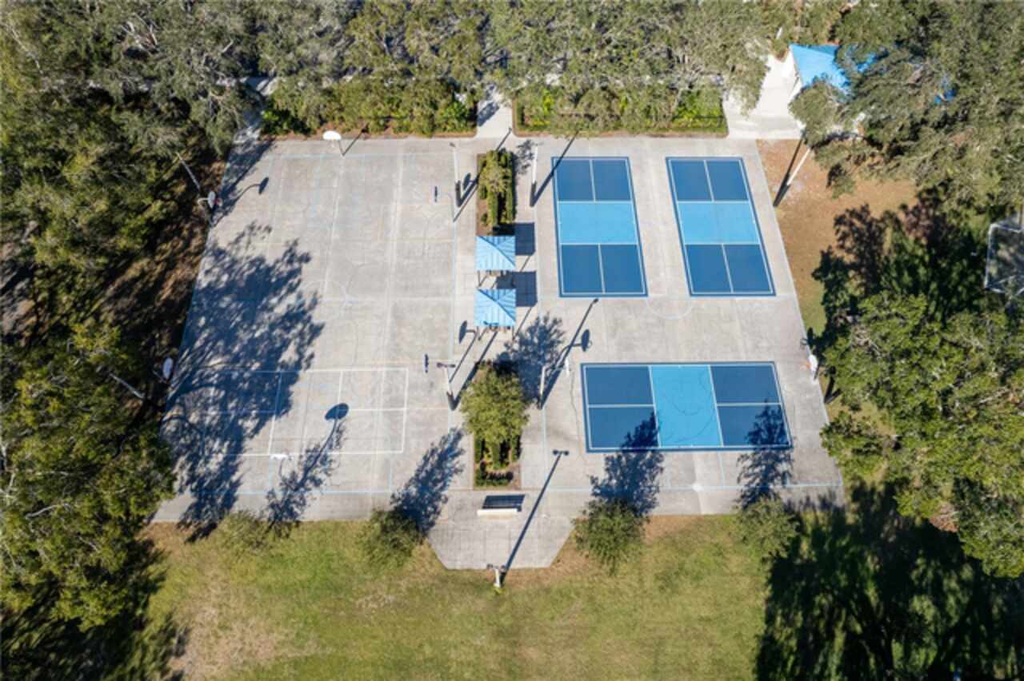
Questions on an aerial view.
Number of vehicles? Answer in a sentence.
No vehicles are visible.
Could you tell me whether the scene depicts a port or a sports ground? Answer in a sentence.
What you see here is a sports ground.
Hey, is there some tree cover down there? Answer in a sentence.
Yes, tree cover shows up in the scene.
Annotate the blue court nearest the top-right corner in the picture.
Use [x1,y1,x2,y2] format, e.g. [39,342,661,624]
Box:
[666,156,776,296]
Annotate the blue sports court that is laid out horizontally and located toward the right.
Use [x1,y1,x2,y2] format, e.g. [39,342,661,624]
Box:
[580,361,796,452]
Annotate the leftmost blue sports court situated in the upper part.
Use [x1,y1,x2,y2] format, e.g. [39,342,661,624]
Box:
[551,156,648,296]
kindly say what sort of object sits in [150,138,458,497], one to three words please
basketball court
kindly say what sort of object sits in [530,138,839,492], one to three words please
basketball court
